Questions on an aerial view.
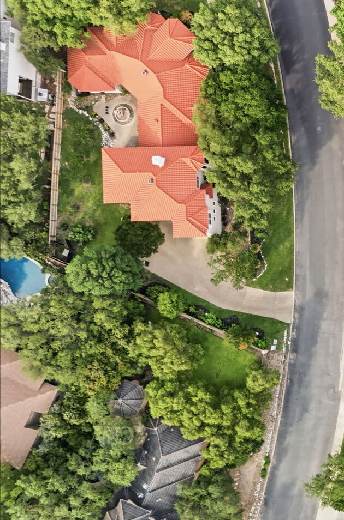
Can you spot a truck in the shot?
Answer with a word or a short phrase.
No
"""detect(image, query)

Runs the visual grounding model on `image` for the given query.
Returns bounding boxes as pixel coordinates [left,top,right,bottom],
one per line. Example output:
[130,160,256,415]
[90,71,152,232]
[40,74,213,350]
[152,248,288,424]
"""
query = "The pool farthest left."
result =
[0,253,48,300]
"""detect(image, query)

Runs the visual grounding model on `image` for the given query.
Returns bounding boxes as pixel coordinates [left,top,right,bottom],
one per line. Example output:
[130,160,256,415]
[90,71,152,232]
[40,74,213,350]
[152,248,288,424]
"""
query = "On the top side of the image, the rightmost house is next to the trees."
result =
[68,12,220,238]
